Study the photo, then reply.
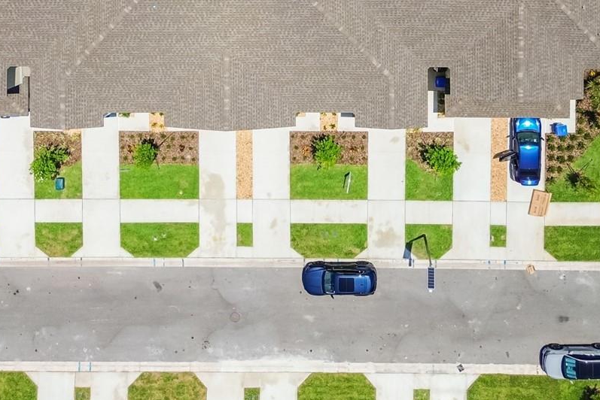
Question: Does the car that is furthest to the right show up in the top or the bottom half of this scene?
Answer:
bottom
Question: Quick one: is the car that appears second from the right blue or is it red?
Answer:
blue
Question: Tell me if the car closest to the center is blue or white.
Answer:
blue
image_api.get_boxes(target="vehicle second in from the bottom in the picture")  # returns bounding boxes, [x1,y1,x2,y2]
[304,262,376,301]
